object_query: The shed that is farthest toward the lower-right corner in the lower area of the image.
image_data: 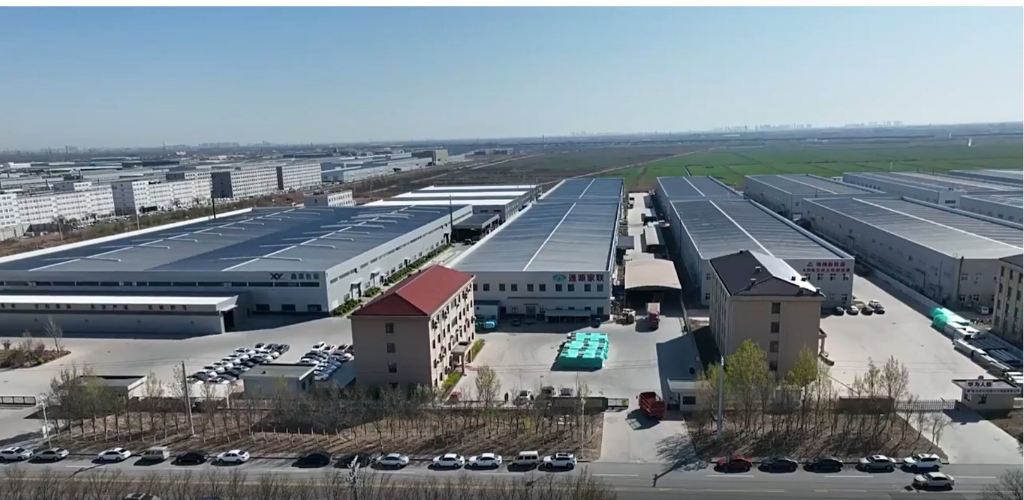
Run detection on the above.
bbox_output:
[948,376,1024,412]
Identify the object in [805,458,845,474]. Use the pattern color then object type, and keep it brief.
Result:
black car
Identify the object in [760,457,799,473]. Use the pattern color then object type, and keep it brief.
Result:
black car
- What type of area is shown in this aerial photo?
industrial area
